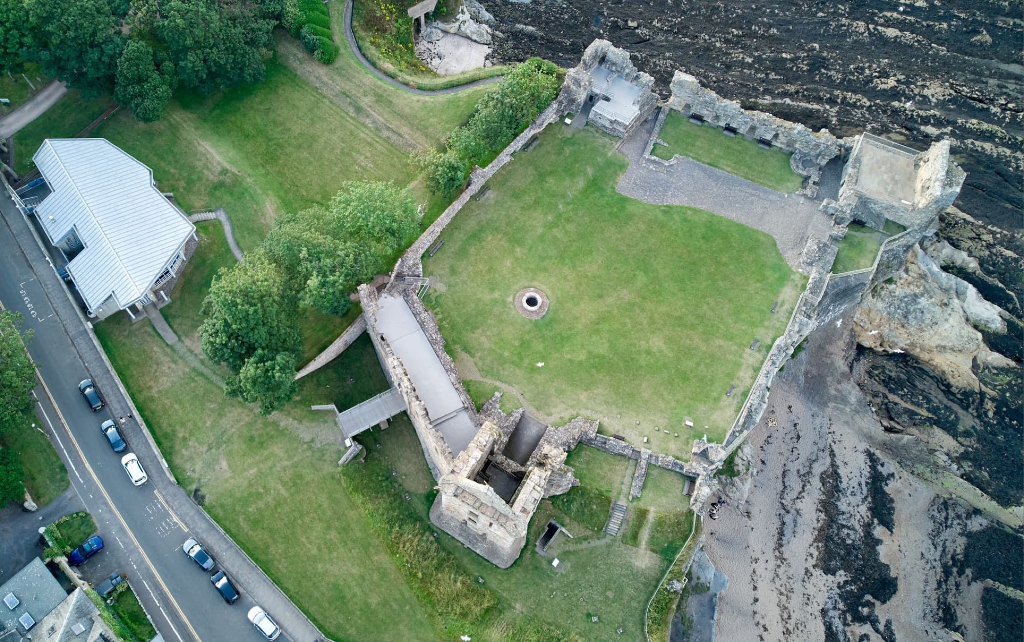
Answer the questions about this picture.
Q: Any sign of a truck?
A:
No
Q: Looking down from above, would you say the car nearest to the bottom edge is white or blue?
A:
white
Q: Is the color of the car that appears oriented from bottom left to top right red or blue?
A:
blue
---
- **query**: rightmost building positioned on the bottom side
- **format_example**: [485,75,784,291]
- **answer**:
[429,422,551,568]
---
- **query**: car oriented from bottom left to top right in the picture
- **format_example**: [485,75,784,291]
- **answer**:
[69,533,106,567]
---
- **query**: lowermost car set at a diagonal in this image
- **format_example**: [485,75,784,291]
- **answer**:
[249,605,281,642]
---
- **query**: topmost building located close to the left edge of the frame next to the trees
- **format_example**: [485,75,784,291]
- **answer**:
[32,137,204,325]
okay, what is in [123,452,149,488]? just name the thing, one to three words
car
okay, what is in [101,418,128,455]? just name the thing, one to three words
car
